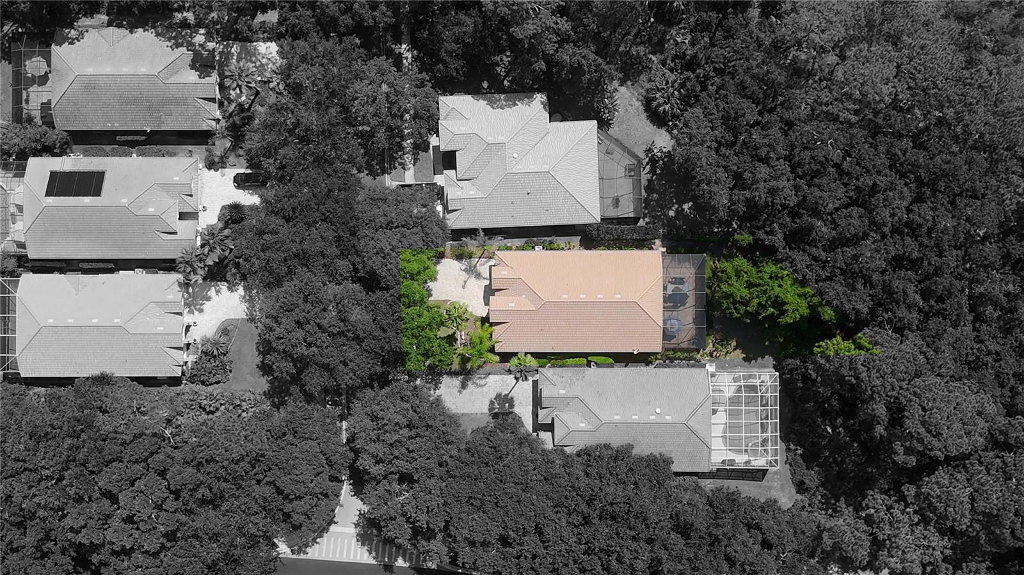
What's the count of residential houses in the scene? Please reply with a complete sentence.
The photo contains 6 residential houses.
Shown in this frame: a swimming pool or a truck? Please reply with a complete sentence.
The one in the frame is a swimming pool.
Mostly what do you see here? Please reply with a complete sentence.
The largest share of the image is taken up by trees.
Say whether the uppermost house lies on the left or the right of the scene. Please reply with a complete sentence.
The uppermost house appears in the left half of the scene.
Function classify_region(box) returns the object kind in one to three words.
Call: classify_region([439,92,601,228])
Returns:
house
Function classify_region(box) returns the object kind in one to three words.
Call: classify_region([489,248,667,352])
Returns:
house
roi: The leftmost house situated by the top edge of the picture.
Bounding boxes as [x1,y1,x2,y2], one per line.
[47,25,227,131]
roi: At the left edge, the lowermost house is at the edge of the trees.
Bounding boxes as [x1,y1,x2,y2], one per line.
[11,273,194,377]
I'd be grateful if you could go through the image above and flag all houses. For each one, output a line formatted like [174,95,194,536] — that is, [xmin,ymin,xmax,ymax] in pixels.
[47,25,227,131]
[489,248,667,352]
[439,92,601,228]
[20,157,205,260]
[538,362,716,473]
[11,273,194,377]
